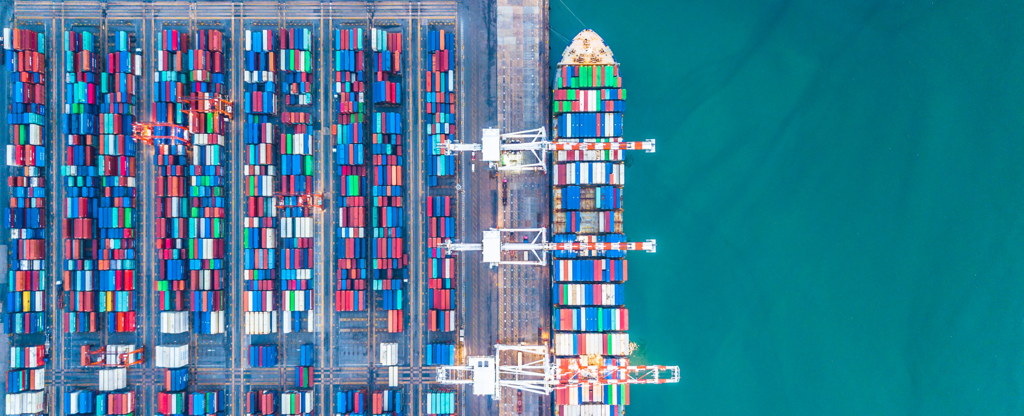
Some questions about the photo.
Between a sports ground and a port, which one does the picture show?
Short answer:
port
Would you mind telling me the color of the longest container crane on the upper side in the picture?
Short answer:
white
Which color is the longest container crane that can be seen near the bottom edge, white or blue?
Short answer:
white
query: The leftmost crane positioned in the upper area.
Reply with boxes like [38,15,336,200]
[132,121,191,146]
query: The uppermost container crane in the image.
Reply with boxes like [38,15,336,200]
[177,95,234,121]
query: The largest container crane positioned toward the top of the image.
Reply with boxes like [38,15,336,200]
[435,125,655,175]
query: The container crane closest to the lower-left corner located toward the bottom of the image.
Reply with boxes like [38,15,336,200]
[84,344,145,368]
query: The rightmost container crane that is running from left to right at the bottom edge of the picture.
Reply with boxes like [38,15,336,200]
[433,338,679,407]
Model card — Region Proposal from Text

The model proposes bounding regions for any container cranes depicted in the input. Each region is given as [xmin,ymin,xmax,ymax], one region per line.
[132,121,191,146]
[272,190,322,212]
[177,95,234,121]
[84,344,145,368]
[433,338,679,407]
[436,225,655,268]
[435,125,655,175]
